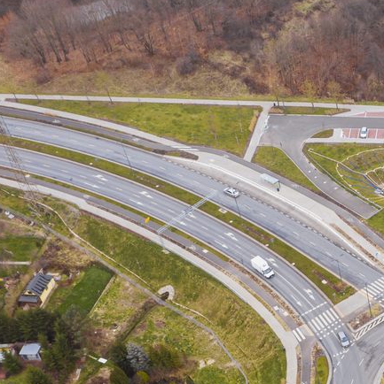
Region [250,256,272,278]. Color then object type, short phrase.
white vehicle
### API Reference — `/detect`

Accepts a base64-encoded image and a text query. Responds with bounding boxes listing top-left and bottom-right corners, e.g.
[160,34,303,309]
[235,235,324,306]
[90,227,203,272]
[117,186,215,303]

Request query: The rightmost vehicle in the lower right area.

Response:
[335,331,350,347]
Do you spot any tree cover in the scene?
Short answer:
Yes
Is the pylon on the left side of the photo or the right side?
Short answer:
left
